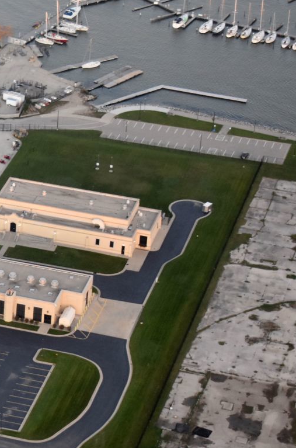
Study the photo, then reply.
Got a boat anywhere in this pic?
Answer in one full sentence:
Yes, a boat can be made out from above.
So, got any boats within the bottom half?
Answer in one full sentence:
No, within the bottom half there is no boat.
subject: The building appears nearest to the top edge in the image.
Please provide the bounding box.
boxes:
[0,177,162,256]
